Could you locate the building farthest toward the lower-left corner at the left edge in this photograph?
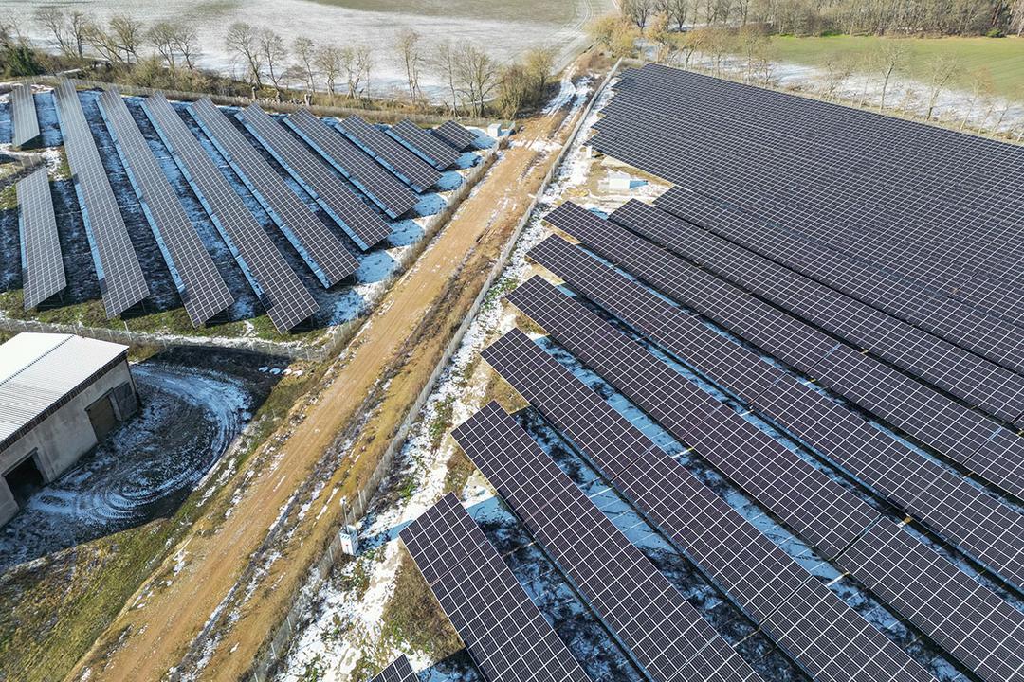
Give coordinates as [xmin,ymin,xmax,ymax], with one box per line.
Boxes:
[0,325,147,523]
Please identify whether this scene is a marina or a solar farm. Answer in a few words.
solar farm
